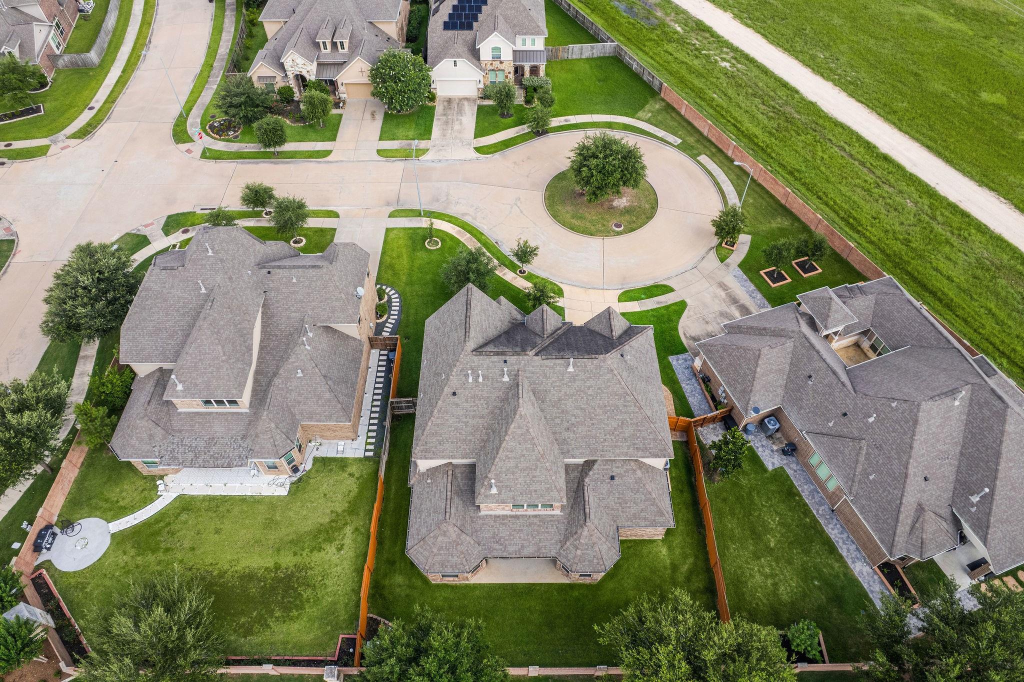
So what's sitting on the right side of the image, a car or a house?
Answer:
house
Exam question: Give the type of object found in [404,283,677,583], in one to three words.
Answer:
house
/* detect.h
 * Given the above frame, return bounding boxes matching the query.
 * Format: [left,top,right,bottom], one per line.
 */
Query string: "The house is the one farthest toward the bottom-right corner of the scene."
[694,276,1024,579]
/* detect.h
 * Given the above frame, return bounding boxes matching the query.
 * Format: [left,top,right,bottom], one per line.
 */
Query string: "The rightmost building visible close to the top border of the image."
[427,0,548,97]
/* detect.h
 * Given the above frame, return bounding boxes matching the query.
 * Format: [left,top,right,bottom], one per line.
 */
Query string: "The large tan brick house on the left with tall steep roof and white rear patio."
[107,225,378,480]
